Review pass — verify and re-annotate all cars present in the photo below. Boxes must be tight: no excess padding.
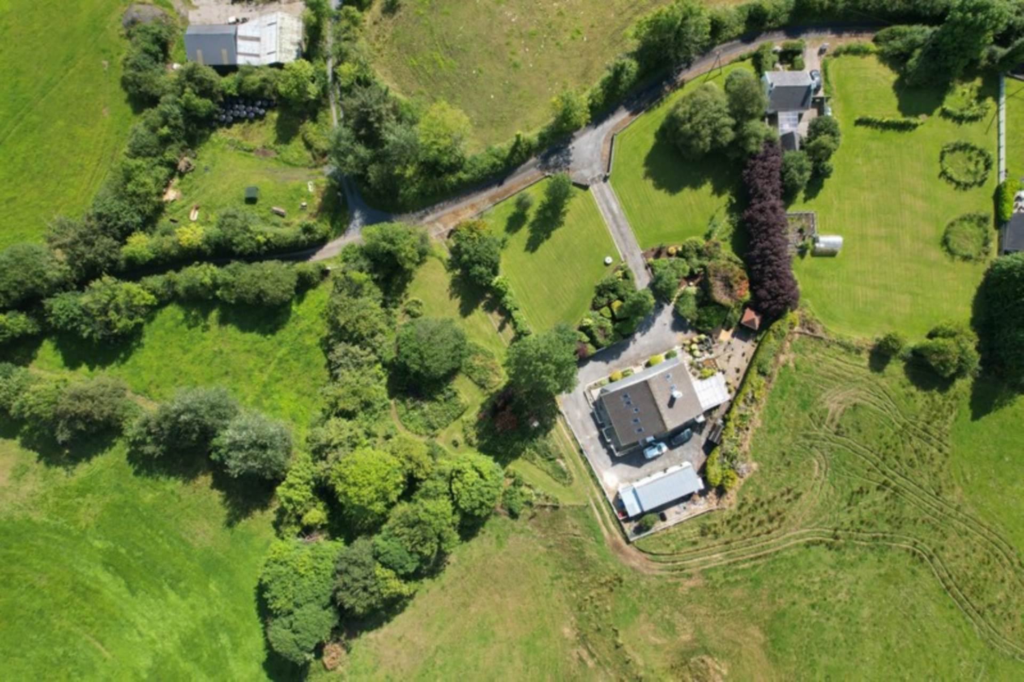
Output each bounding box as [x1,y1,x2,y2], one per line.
[668,429,693,447]
[809,69,822,93]
[642,442,667,460]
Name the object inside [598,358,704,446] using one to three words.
house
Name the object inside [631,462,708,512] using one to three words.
building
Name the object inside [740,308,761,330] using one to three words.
gazebo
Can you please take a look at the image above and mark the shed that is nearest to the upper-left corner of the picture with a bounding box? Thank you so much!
[184,25,241,72]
